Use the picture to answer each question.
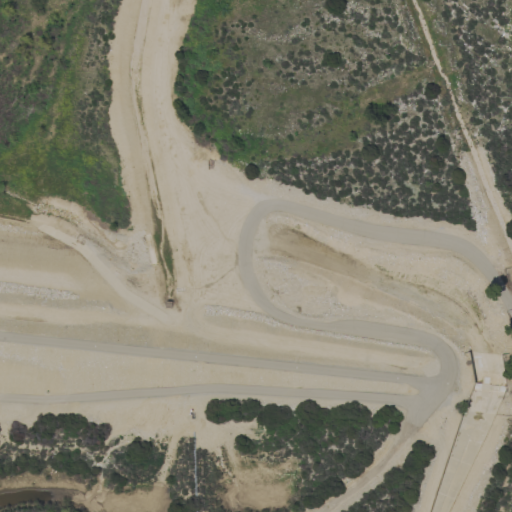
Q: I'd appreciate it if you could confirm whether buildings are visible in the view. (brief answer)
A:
No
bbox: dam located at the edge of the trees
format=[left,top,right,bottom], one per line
[0,286,440,404]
